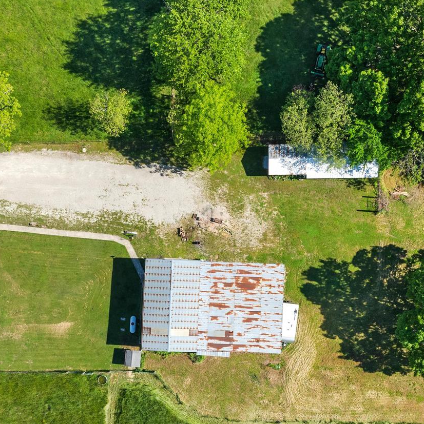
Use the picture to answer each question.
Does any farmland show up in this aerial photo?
Yes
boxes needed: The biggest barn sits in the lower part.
[142,259,284,357]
